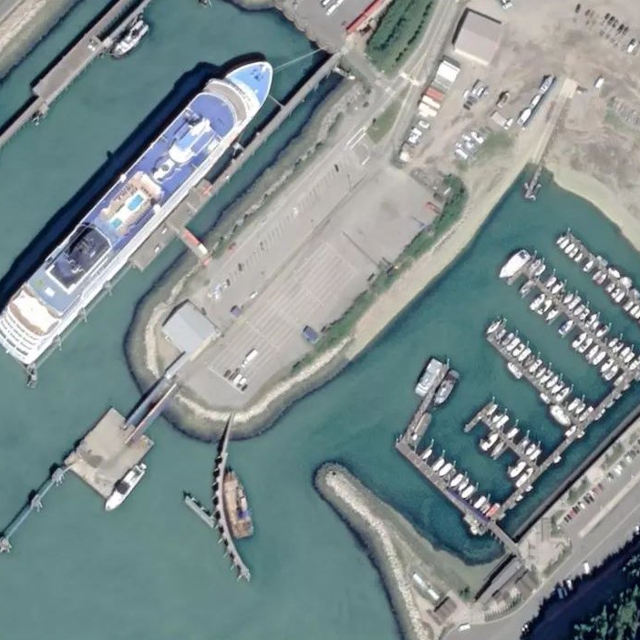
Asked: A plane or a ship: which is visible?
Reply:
ship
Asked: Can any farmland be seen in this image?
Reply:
No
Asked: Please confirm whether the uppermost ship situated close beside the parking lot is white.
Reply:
Yes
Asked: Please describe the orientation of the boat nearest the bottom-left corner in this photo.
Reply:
on a diagonal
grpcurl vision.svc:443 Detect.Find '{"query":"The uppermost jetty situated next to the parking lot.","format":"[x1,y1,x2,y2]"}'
[206,54,348,191]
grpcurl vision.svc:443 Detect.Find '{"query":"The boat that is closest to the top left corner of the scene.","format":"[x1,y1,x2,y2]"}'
[115,25,143,53]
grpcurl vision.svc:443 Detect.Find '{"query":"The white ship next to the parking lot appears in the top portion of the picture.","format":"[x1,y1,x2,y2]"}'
[0,66,268,362]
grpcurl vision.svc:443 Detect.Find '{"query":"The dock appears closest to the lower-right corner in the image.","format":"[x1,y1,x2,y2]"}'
[493,516,527,561]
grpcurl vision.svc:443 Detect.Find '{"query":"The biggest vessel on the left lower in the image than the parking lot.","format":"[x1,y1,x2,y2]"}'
[224,470,253,540]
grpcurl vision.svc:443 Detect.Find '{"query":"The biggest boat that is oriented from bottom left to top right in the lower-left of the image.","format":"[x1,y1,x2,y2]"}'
[108,461,150,506]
